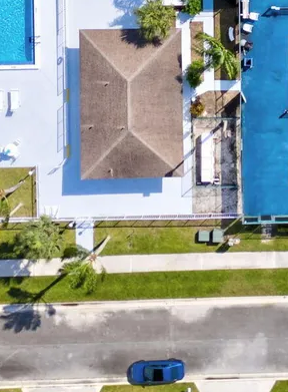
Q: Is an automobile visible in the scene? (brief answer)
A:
Yes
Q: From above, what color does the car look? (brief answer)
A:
blue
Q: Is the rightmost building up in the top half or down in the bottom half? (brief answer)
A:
top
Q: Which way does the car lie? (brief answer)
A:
from side to side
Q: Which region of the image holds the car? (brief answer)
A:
bottom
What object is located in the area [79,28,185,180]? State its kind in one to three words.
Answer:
building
